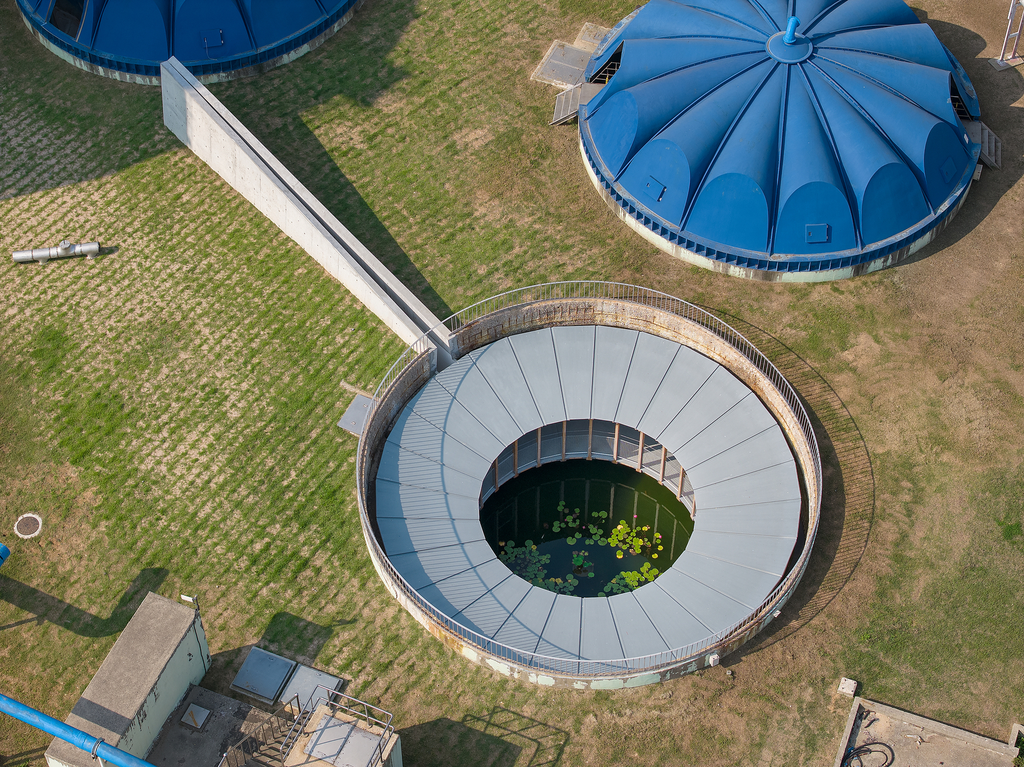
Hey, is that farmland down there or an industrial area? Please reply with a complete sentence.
This image shows an industrial area.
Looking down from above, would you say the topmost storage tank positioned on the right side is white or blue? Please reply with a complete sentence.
The color of the topmost storage tank positioned on the right side is blue.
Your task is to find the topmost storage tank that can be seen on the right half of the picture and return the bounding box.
[580,0,981,282]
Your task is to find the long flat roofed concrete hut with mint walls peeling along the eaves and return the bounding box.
[44,592,207,767]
